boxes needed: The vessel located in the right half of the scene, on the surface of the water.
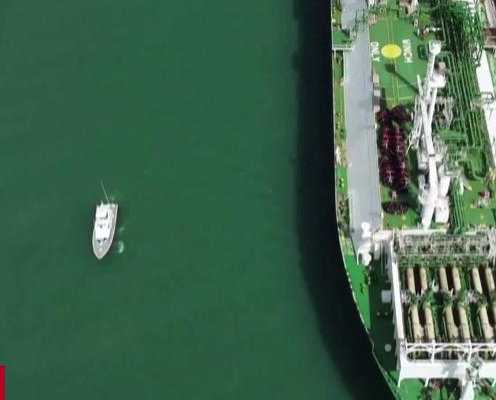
[331,0,496,400]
